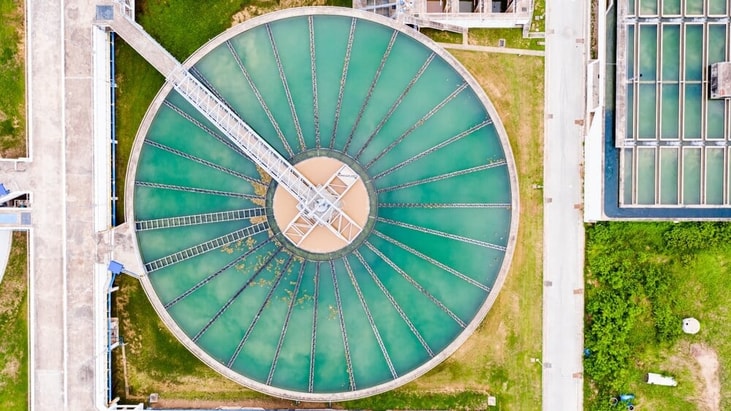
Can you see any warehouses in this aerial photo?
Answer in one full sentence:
No, no warehouse is visible in the scene.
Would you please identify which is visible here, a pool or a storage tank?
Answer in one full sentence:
It is a storage tank that can be seen here.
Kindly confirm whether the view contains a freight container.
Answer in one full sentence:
No, no freight container can be seen from above.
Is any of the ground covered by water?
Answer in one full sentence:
Yes, some water is visible.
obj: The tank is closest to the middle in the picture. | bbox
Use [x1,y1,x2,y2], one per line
[125,7,520,402]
